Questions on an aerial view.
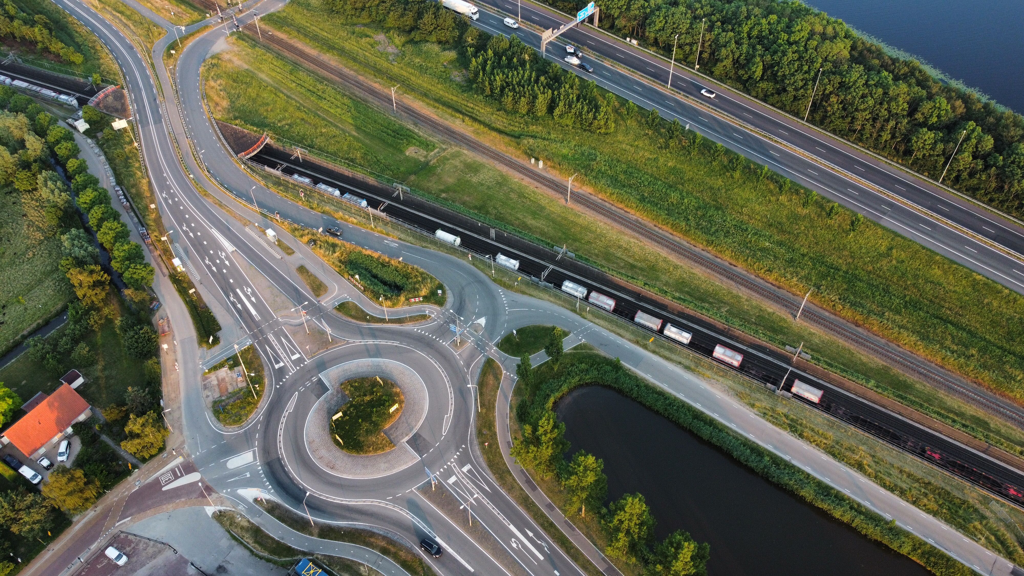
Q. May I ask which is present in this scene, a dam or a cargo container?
cargo container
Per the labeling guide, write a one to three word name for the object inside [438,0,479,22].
truck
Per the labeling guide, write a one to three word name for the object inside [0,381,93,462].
house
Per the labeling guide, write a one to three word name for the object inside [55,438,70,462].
car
